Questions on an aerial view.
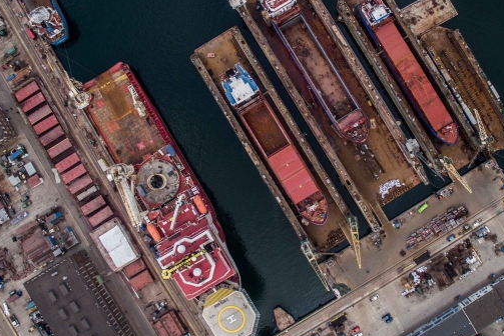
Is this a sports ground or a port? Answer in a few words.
port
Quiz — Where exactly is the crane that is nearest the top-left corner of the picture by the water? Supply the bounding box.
[62,69,88,106]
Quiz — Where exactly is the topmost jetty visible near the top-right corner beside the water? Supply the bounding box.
[401,0,458,39]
